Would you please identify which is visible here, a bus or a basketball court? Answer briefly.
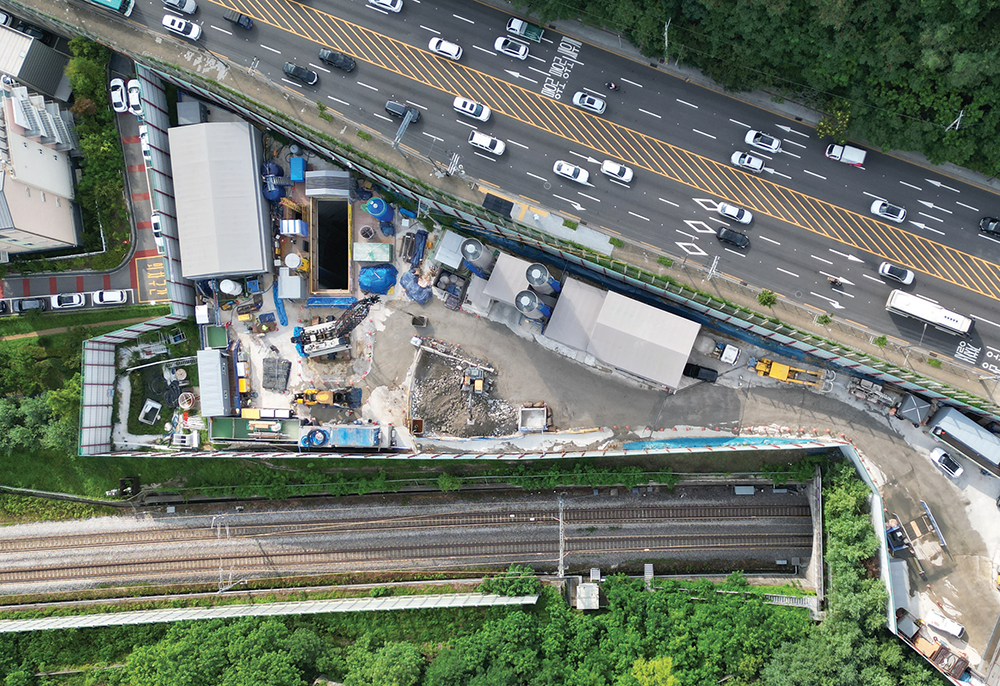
bus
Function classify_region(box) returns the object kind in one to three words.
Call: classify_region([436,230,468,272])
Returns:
shed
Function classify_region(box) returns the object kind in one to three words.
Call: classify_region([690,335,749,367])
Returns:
truck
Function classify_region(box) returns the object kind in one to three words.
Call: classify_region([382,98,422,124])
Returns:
car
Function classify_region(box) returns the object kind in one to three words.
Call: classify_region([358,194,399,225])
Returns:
storage tank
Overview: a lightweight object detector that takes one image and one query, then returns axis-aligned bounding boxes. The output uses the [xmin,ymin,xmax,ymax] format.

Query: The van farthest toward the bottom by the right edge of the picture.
[917,607,960,638]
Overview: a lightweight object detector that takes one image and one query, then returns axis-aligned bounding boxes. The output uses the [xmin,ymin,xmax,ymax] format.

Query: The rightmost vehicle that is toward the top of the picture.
[971,213,1000,238]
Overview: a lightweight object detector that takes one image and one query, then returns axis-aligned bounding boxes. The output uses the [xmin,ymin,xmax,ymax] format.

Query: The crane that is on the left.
[286,287,389,368]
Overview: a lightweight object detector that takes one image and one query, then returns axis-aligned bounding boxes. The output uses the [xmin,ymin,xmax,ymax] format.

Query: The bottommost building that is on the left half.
[197,350,236,416]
